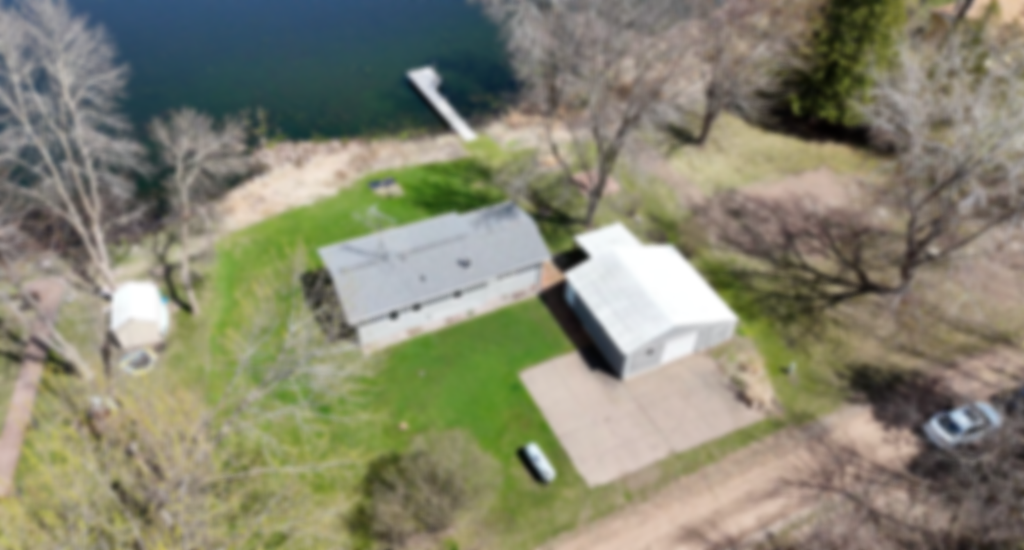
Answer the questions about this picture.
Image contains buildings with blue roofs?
No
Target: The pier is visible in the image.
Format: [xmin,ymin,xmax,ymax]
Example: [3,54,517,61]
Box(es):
[412,66,476,142]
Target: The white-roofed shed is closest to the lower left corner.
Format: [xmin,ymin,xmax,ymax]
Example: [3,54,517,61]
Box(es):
[110,281,167,349]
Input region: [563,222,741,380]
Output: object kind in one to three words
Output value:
building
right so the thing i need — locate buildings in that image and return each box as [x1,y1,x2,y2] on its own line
[563,222,741,380]
[110,281,167,349]
[315,197,556,353]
